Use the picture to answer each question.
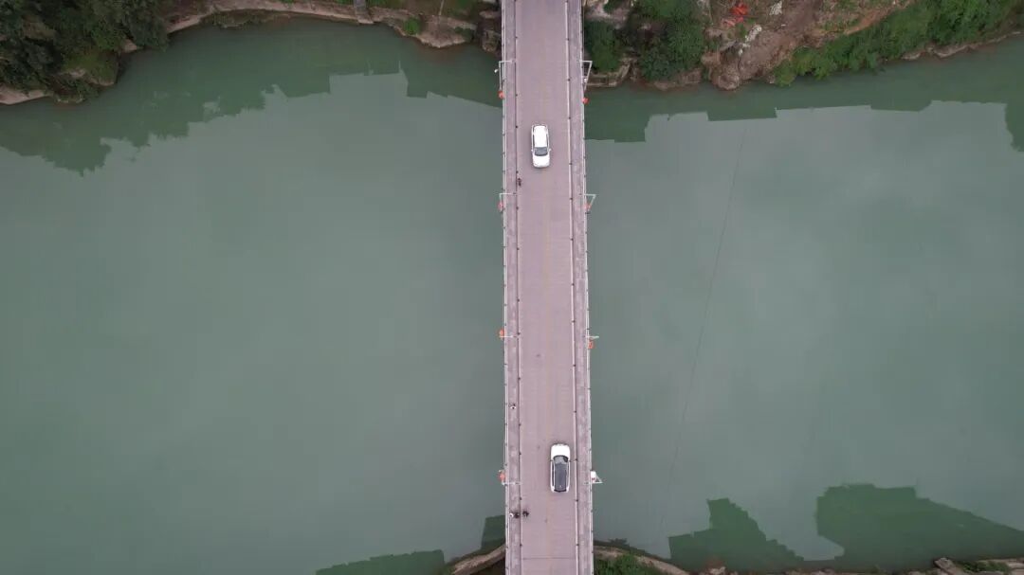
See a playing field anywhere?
No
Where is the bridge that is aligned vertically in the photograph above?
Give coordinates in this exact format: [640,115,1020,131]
[500,0,595,575]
